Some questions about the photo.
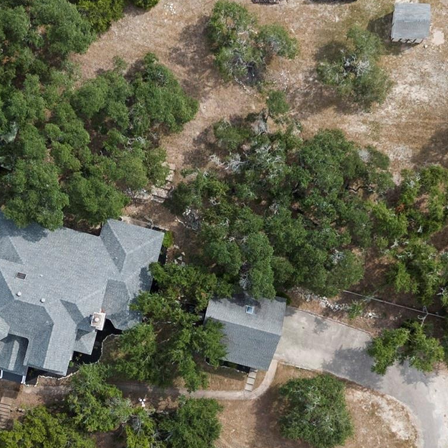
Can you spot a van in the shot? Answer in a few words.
No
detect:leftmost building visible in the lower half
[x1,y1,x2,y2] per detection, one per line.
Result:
[0,211,165,386]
